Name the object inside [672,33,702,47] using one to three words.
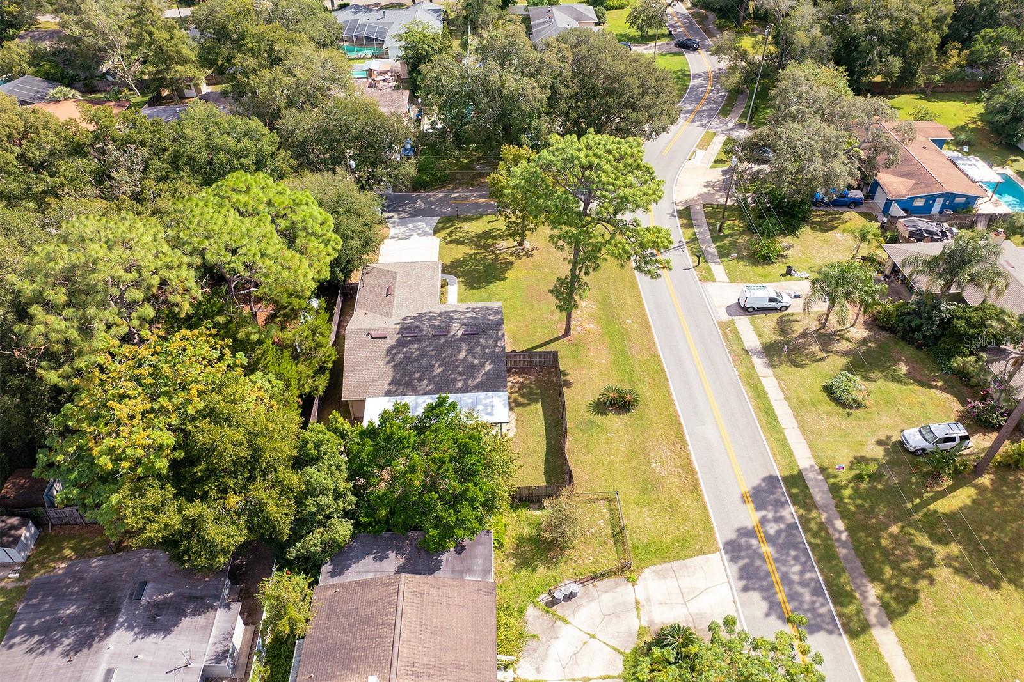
car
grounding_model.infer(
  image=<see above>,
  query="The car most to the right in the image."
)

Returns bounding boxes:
[894,415,967,456]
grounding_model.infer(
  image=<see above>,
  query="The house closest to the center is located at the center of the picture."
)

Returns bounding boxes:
[343,260,509,430]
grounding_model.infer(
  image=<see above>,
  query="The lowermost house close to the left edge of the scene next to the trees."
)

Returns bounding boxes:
[0,555,252,682]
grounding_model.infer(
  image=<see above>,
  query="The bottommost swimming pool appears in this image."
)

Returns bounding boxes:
[984,173,1024,211]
